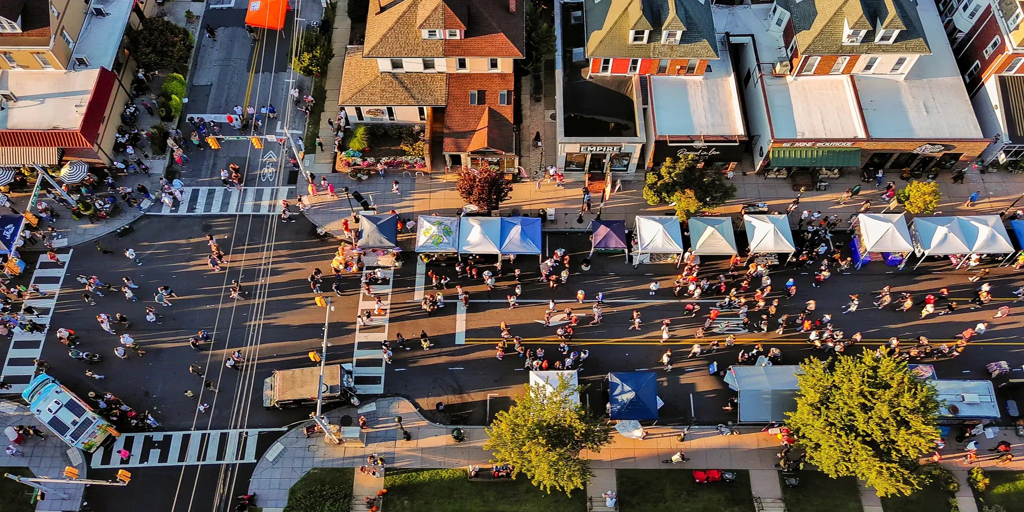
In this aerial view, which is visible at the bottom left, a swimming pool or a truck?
truck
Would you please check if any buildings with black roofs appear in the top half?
Yes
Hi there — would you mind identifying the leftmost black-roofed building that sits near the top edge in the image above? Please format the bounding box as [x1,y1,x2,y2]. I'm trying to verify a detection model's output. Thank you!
[553,0,646,181]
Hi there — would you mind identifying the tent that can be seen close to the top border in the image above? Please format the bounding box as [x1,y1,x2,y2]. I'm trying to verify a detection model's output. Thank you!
[247,0,297,48]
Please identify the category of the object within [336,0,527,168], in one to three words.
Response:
house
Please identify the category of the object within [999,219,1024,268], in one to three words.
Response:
tent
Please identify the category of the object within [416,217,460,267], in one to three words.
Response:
tent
